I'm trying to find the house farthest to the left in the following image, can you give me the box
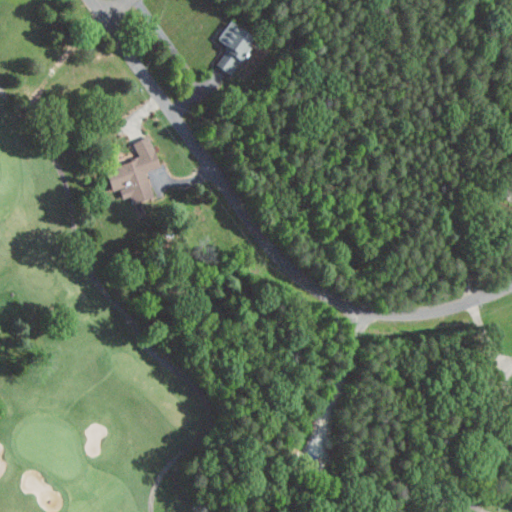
[106,138,160,206]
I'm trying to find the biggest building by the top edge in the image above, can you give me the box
[220,20,254,60]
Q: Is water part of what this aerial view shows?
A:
No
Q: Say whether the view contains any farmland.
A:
No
